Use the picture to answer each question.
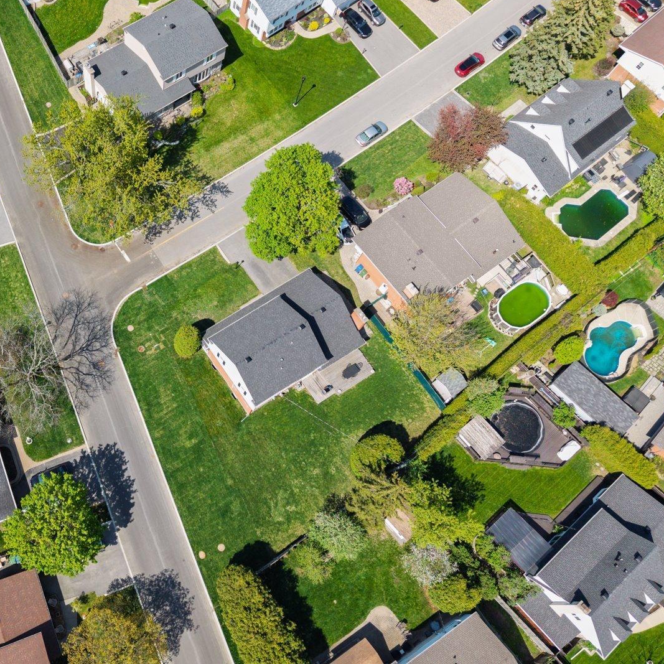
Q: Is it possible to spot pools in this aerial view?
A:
Yes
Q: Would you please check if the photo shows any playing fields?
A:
No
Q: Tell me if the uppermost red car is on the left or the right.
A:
right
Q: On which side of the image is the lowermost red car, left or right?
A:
right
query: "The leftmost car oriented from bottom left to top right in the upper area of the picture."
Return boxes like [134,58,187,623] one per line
[355,121,389,147]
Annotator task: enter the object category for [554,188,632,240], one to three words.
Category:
swimming pool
